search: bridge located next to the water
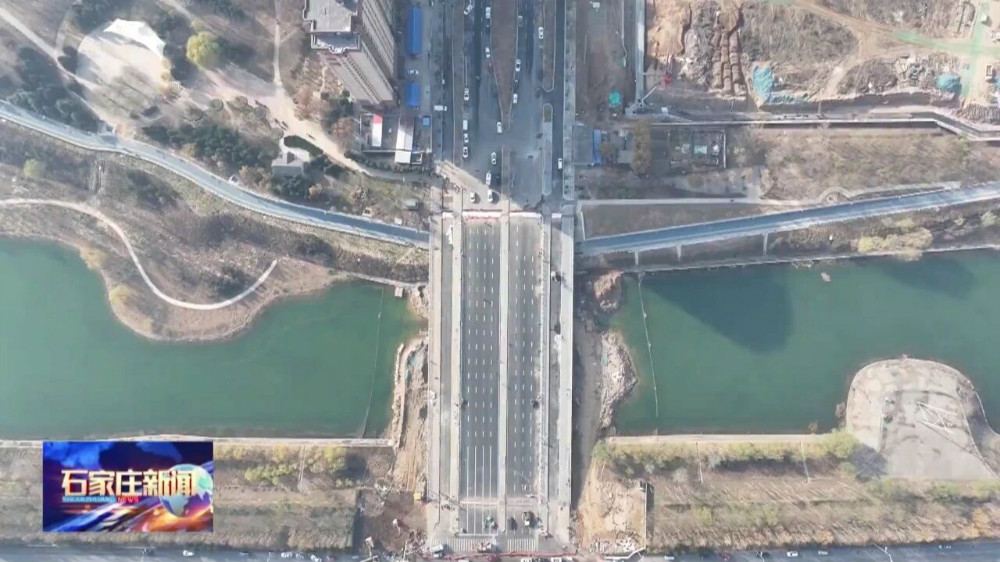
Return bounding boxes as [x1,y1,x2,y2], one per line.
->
[427,216,573,549]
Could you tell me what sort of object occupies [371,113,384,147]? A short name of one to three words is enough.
shed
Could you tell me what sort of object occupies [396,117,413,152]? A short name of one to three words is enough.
building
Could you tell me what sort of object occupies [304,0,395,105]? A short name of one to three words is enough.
building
